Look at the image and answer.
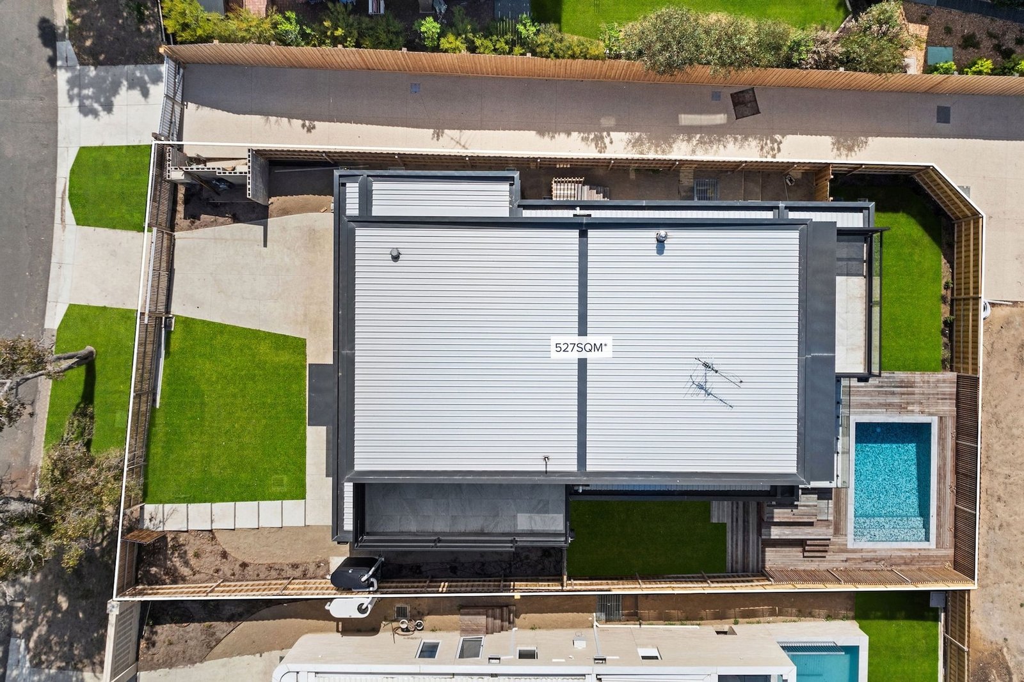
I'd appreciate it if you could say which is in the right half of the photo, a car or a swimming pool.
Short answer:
swimming pool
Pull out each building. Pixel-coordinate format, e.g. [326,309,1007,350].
[277,614,796,682]
[309,171,890,556]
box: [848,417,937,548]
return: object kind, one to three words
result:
swimming pool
